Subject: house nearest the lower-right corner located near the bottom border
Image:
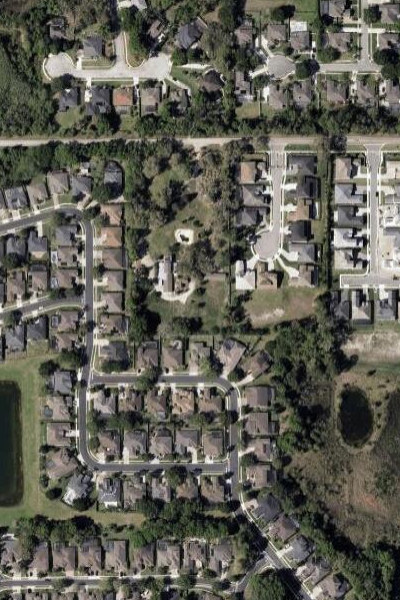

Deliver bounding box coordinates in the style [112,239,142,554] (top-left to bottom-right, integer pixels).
[317,574,347,600]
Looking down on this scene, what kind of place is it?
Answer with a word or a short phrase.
residential area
